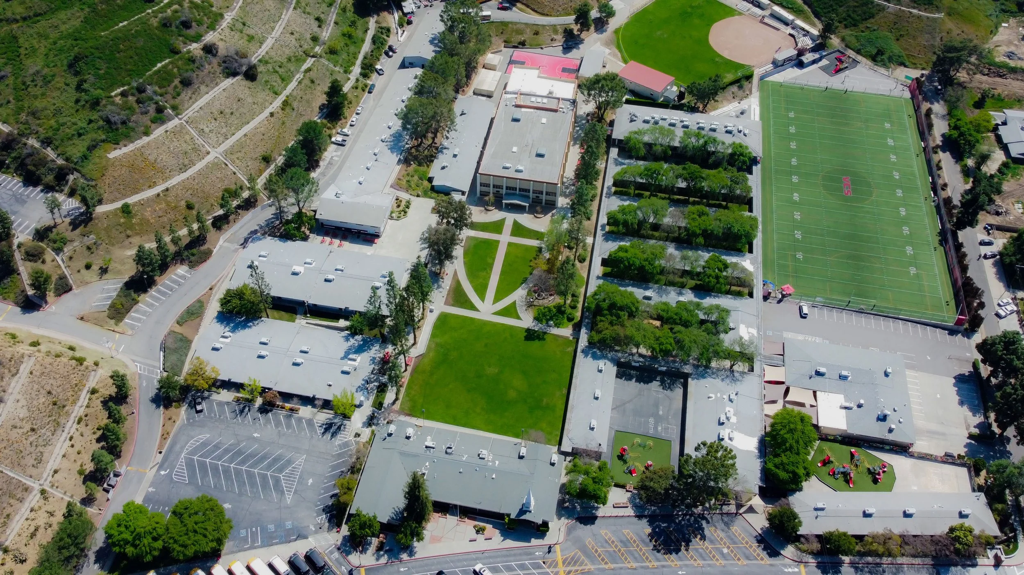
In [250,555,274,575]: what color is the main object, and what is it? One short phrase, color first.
white bus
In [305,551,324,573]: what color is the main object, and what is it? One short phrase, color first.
black vehicle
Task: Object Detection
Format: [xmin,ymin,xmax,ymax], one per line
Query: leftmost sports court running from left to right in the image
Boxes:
[506,50,580,79]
